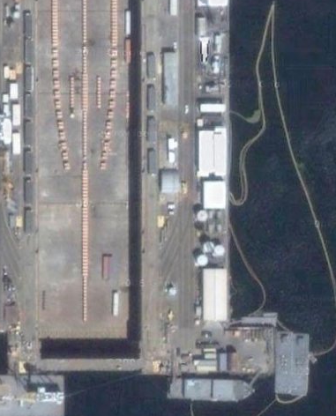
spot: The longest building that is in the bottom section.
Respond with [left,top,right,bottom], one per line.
[204,269,226,322]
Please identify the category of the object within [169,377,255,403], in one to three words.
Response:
ship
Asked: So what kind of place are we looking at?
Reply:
port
